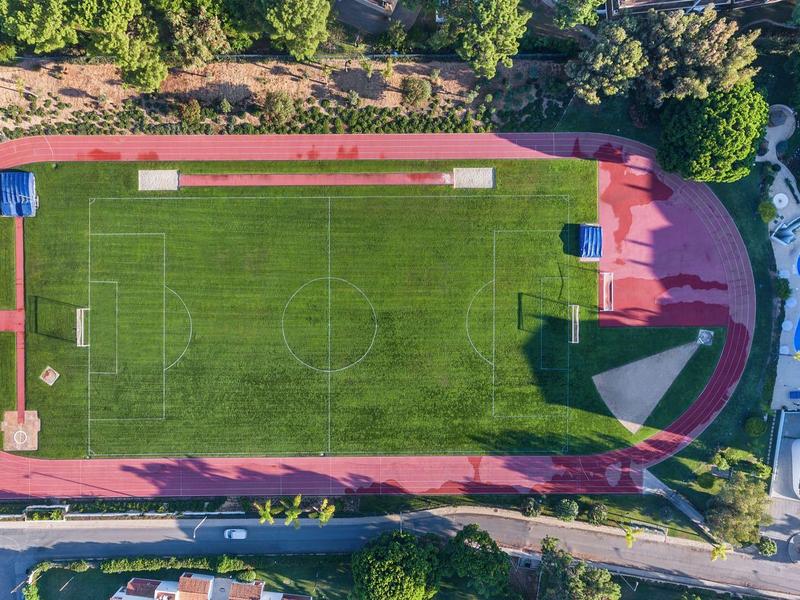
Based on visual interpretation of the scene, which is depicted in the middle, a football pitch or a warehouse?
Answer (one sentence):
You can see a football pitch in the middle.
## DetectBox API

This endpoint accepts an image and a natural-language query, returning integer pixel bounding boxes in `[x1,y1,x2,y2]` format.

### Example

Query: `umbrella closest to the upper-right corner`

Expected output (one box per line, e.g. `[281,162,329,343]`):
[770,193,788,208]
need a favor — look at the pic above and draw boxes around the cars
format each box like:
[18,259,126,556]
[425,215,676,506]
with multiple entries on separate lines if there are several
[223,529,246,541]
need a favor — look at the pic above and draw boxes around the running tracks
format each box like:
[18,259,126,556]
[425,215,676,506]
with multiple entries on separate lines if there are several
[0,132,756,499]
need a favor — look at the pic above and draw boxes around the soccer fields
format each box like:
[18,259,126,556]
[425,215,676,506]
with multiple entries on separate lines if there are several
[74,188,580,456]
